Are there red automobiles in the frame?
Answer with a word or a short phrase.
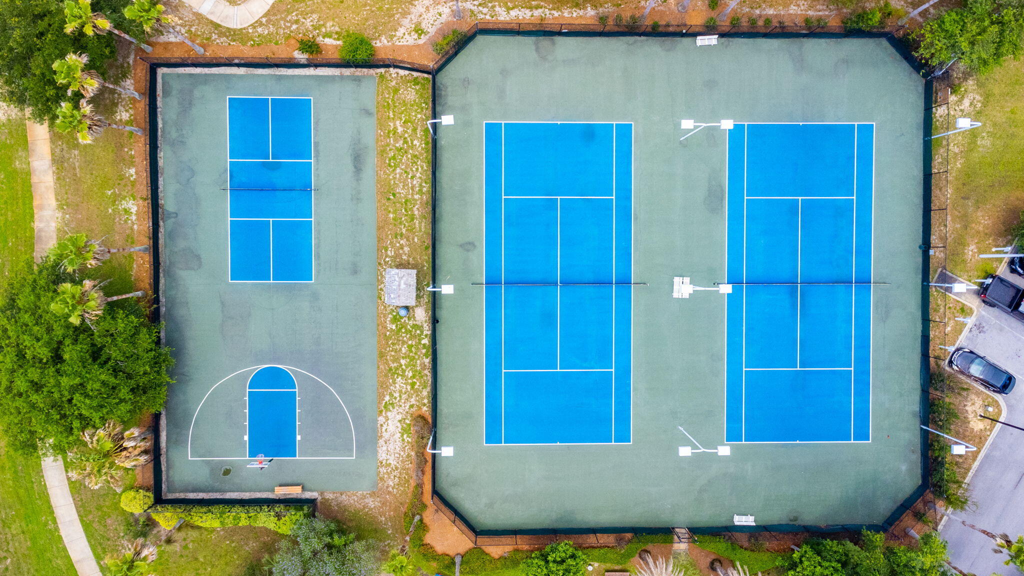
No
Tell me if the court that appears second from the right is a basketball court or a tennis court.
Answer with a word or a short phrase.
tennis court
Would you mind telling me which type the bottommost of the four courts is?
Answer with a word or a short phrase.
basketball court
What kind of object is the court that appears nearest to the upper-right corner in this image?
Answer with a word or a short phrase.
tennis court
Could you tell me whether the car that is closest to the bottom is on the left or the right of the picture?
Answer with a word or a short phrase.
right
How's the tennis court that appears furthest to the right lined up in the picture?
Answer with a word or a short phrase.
vertically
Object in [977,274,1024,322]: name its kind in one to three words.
truck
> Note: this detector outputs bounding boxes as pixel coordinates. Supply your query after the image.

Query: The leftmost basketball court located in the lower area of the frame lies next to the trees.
[190,365,355,460]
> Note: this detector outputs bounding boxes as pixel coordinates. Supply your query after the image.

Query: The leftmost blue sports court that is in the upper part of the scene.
[227,97,314,282]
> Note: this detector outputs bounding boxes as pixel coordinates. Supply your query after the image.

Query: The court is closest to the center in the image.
[484,122,633,444]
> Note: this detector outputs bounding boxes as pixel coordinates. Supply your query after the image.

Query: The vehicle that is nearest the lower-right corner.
[948,347,1015,396]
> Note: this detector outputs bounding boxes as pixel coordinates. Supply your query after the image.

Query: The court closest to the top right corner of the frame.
[725,123,875,443]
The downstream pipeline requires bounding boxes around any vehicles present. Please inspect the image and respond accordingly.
[1009,252,1024,280]
[948,347,1015,396]
[977,274,1024,322]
